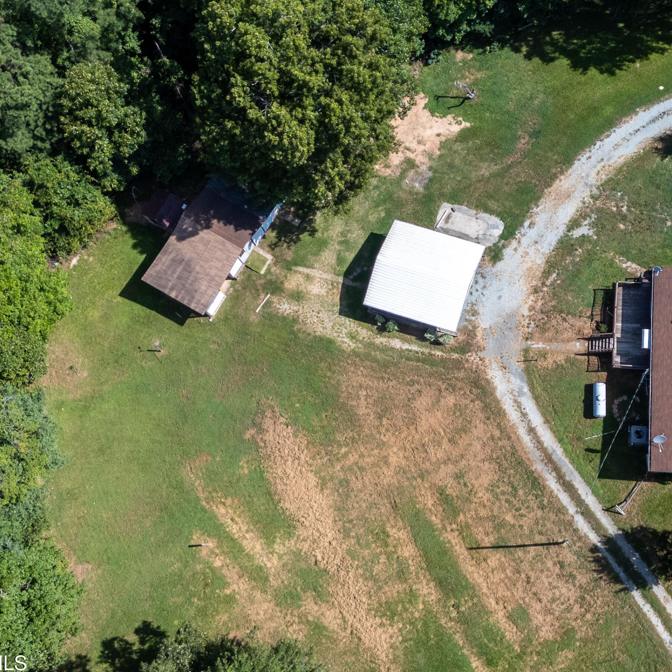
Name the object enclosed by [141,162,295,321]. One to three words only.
shed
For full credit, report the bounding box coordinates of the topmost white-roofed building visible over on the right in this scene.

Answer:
[362,219,487,337]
